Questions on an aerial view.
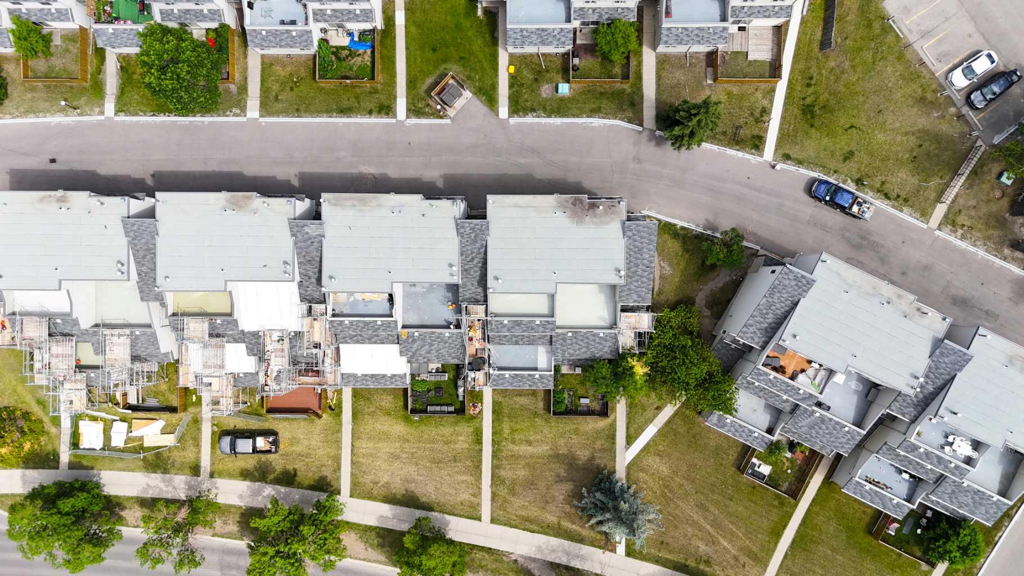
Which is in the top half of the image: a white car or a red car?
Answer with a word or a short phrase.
white car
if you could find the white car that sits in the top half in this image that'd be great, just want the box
[943,48,998,90]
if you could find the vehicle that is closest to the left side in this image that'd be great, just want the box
[220,431,282,457]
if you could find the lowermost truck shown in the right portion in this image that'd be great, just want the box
[806,178,876,224]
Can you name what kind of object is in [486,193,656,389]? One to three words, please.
house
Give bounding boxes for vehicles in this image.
[806,178,876,224]
[943,48,998,90]
[220,431,282,457]
[965,69,1022,113]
